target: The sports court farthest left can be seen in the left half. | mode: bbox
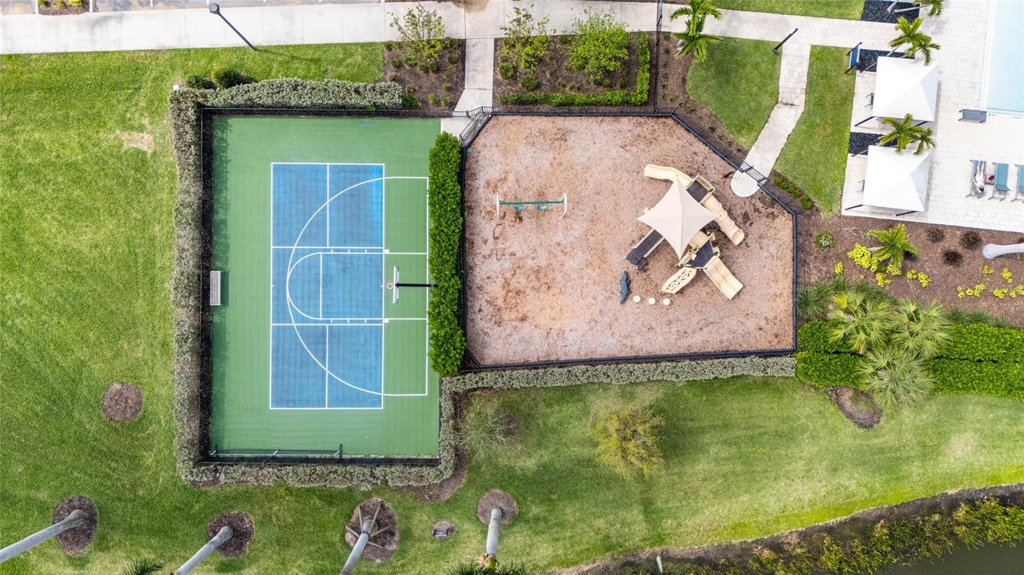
[212,117,440,456]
